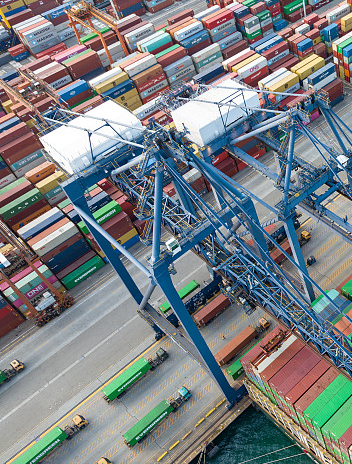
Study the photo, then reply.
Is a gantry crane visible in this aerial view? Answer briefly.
Yes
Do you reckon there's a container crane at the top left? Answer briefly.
Yes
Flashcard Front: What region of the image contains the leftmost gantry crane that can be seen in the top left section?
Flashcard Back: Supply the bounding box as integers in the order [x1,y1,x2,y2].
[2,77,69,127]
